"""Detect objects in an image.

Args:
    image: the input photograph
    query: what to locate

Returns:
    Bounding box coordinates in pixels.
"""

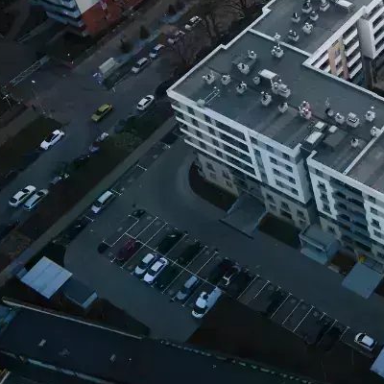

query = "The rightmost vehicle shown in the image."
[352,330,381,355]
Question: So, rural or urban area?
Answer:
urban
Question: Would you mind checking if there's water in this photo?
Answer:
No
